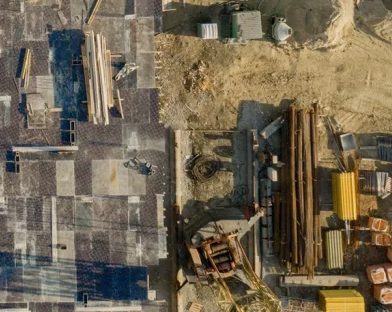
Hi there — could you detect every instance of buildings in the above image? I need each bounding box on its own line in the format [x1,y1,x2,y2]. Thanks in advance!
[0,0,170,312]
[228,10,261,39]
